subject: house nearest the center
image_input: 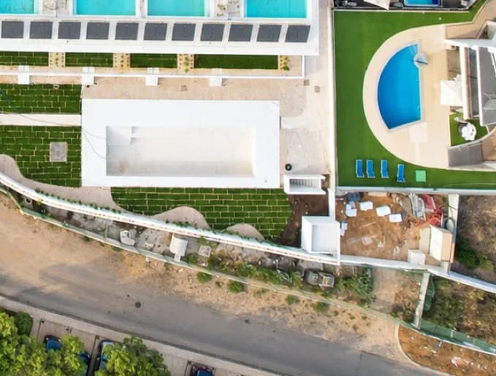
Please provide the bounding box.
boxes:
[279,171,326,195]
